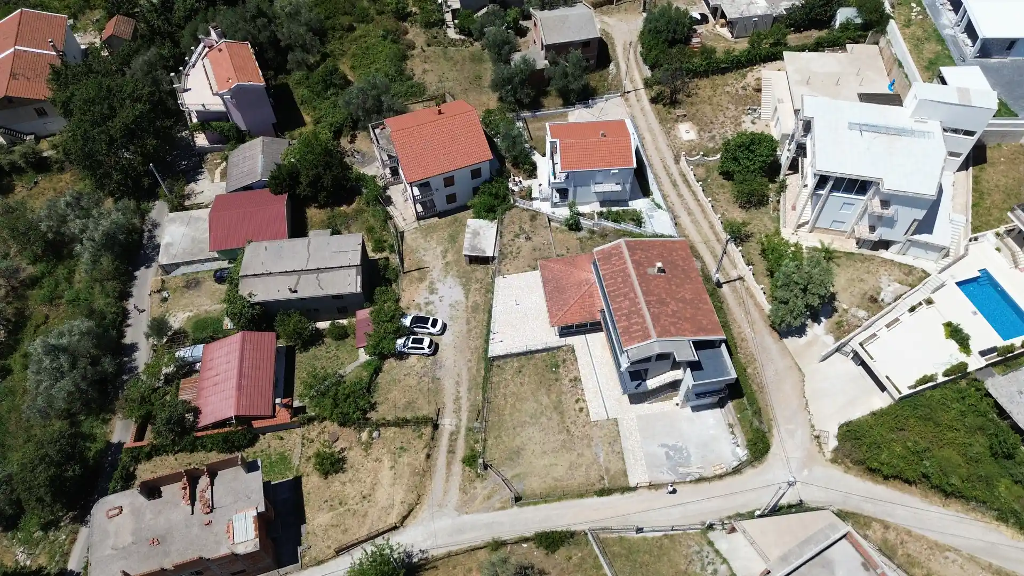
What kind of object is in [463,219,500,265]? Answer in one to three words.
shed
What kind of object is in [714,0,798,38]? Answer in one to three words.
house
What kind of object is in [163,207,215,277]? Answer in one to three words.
building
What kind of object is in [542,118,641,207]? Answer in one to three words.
house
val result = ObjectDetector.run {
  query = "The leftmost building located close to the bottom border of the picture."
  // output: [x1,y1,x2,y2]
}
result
[88,453,283,576]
